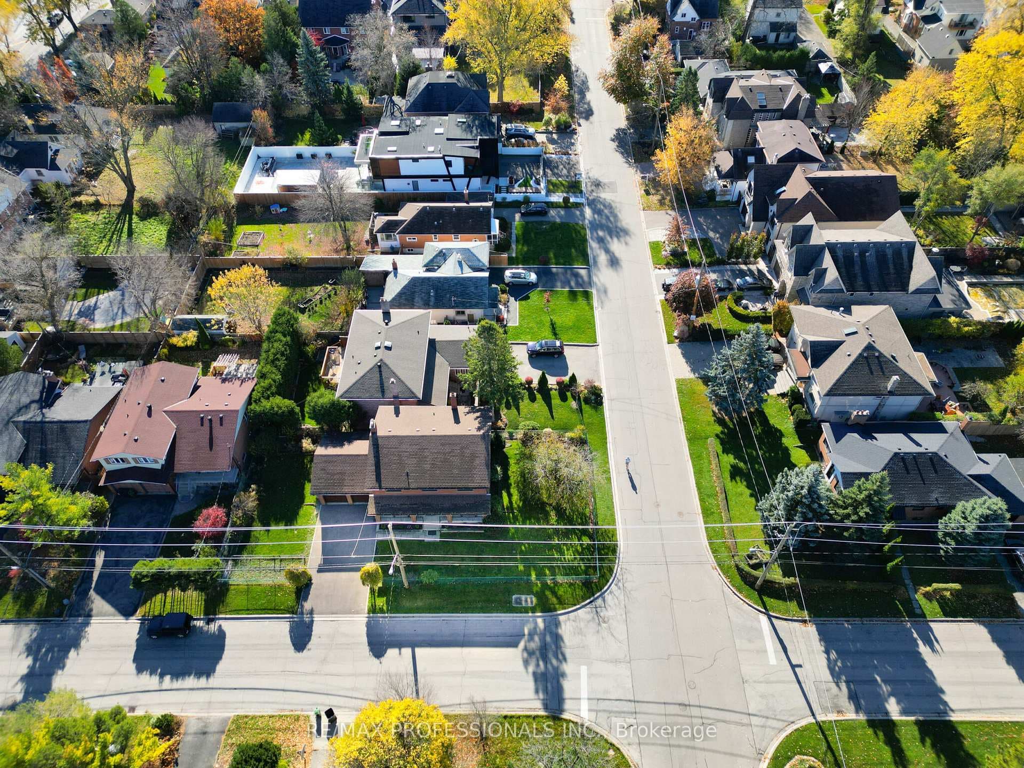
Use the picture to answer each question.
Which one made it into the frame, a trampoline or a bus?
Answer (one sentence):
It is a trampoline that can be seen here.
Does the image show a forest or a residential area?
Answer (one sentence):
This looks like a residential area.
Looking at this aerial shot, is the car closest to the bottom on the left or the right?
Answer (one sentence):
The car closest to the bottom sits on the left side.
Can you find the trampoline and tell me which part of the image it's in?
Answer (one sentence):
You can find the trampoline in the left area of the picture.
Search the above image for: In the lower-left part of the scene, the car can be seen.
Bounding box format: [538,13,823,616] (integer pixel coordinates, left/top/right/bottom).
[139,609,198,639]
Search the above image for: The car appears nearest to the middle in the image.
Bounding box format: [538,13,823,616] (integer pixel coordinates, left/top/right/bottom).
[526,338,565,357]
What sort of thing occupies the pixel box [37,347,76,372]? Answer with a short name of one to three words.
trampoline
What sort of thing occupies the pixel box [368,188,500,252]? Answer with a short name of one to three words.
house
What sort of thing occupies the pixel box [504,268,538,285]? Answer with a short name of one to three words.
car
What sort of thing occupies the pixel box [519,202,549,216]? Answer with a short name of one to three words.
car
